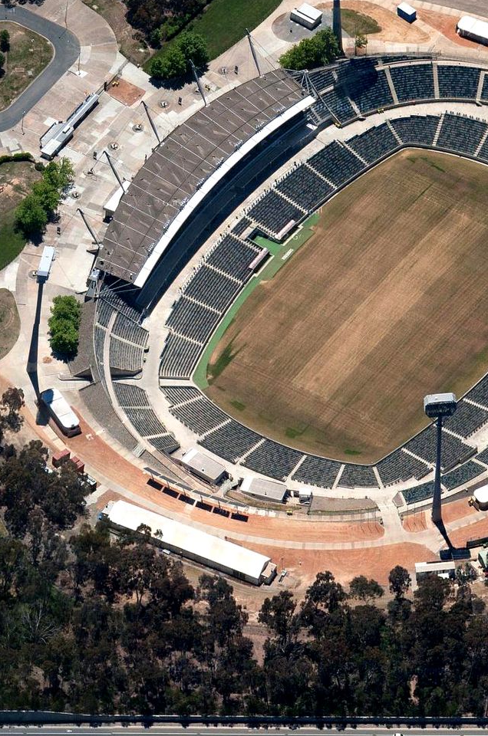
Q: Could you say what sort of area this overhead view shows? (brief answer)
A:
sports ground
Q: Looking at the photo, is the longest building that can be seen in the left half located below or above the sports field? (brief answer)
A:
below it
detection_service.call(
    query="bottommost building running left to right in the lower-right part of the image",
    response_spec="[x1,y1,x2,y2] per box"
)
[415,561,456,578]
